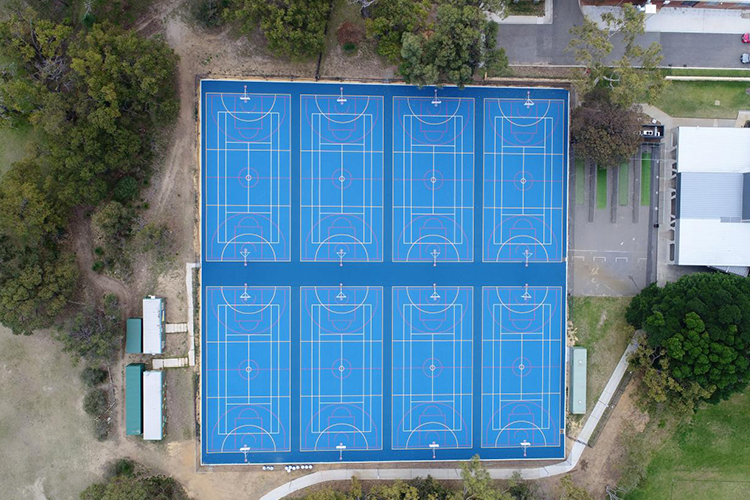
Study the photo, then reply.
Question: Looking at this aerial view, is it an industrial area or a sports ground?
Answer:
sports ground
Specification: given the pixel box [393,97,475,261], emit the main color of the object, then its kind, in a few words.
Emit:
blue sports court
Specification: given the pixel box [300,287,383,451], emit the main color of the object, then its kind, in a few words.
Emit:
blue sports court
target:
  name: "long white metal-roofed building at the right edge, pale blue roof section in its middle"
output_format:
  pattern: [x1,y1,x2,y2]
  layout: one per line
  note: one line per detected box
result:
[658,127,750,278]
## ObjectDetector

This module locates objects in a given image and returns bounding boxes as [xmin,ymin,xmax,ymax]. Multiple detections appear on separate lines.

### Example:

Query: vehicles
[740,34,750,45]
[740,52,750,64]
